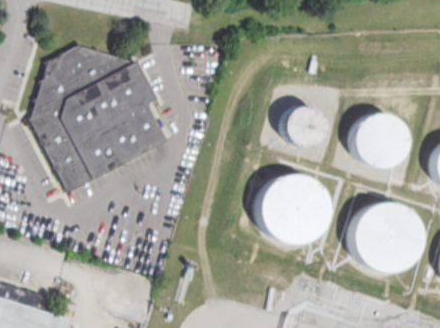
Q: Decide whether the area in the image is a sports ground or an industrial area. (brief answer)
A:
industrial area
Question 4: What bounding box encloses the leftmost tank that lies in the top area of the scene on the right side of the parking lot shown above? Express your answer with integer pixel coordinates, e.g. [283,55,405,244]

[278,104,330,149]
